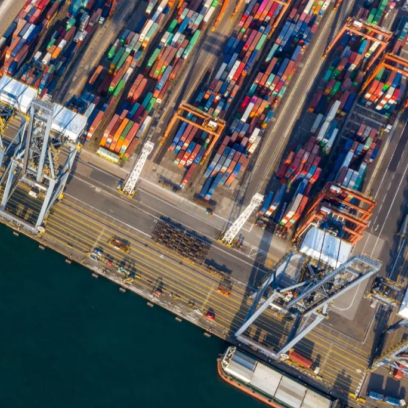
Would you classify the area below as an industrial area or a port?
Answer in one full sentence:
What you see here is a port.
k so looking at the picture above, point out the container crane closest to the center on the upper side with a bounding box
[159,100,230,164]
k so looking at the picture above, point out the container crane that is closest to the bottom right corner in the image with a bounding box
[342,263,408,369]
